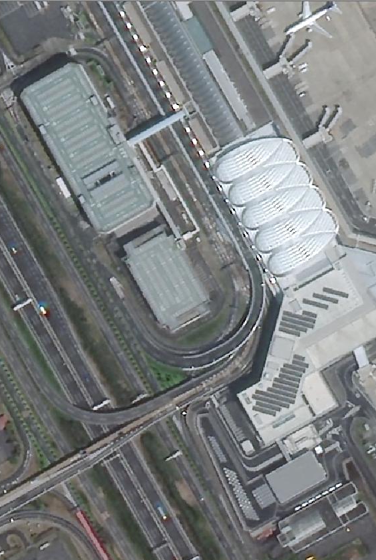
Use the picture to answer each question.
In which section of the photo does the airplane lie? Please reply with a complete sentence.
The airplane sits in the top right section of the image.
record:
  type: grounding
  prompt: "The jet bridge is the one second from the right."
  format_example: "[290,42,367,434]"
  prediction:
[303,107,343,148]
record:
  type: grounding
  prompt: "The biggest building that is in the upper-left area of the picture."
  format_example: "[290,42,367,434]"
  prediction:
[22,63,159,236]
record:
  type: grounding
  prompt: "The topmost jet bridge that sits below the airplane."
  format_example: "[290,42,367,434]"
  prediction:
[264,34,312,79]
